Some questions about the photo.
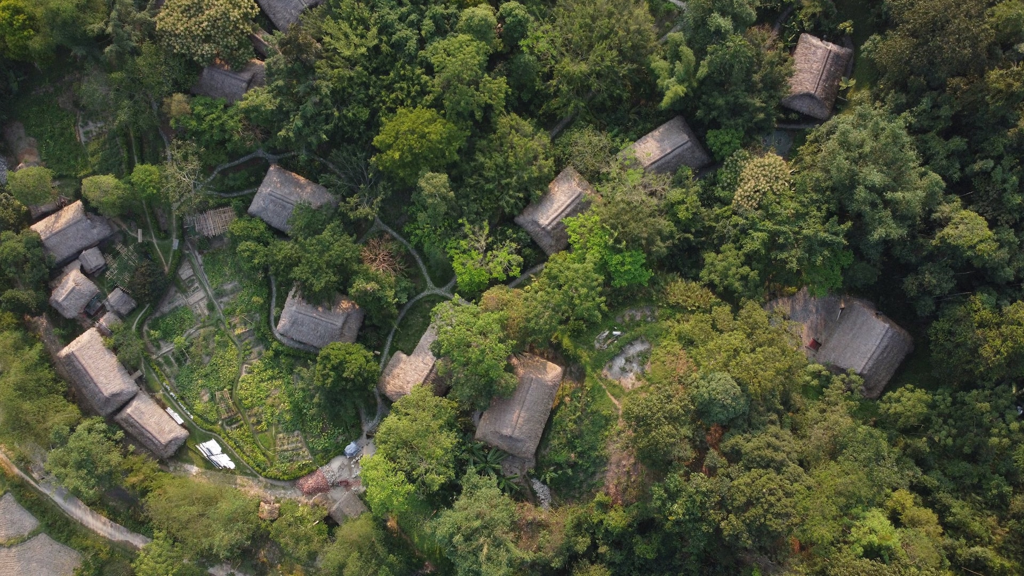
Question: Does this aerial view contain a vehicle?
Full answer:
No, I can't see a single vehicle in this photo.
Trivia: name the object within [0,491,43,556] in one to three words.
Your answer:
shed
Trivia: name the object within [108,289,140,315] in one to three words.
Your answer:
shed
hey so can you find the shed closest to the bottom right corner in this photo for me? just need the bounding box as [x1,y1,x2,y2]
[817,298,914,399]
